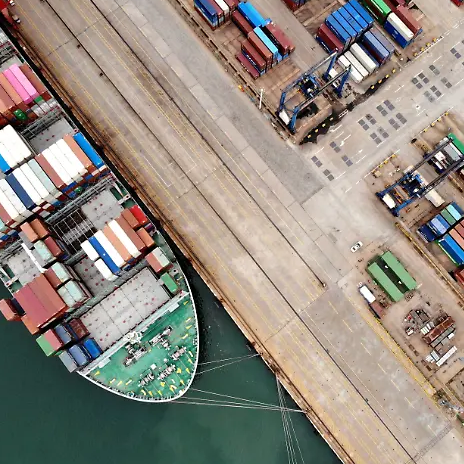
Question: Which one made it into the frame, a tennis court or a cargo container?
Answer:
cargo container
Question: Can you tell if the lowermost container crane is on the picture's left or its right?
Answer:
right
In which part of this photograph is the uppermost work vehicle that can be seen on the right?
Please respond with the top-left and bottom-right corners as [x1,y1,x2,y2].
[409,139,428,155]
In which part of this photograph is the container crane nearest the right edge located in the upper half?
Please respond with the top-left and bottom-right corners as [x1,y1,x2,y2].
[376,138,464,217]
